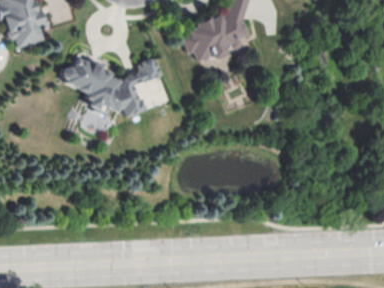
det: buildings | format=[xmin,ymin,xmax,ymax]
[178,0,252,66]
[58,56,166,118]
[0,0,51,51]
